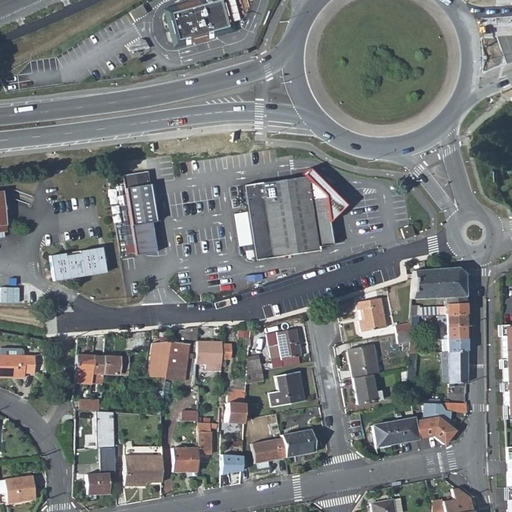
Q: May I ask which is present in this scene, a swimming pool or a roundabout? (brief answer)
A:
roundabout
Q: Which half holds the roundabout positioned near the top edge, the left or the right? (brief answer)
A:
right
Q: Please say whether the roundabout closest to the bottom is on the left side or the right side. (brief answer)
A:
right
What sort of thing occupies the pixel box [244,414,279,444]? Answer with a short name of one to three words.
house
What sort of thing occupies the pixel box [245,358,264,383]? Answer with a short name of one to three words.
shed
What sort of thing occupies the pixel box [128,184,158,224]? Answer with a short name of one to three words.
building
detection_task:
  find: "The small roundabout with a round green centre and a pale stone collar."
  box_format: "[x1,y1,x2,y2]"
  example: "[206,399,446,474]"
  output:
[446,204,502,260]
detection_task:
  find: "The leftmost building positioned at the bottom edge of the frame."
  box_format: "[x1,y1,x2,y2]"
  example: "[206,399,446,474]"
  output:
[5,474,36,504]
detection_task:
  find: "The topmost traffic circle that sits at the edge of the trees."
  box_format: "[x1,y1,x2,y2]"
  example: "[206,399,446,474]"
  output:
[282,0,482,159]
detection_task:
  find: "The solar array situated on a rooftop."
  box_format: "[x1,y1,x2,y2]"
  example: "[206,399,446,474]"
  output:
[276,334,290,358]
